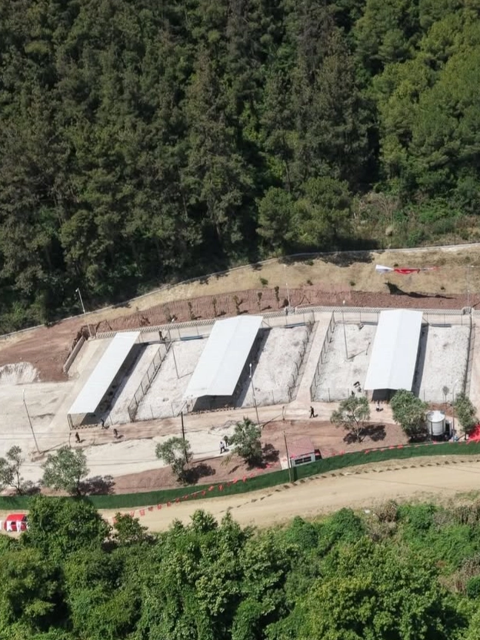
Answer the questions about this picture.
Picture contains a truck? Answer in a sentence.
No, the photo shows no truck.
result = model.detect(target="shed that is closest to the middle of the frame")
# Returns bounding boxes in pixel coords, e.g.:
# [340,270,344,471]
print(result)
[182,314,263,417]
